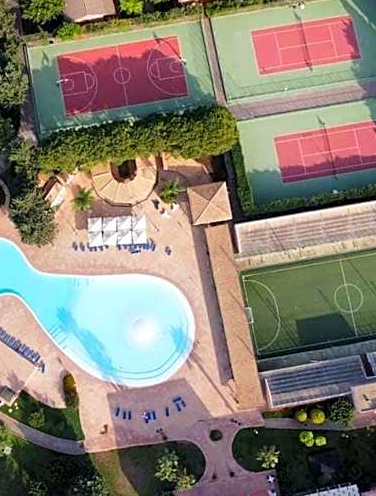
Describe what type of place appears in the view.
sports ground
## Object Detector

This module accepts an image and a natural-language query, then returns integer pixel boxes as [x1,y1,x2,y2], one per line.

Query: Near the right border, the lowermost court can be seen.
[237,98,376,211]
